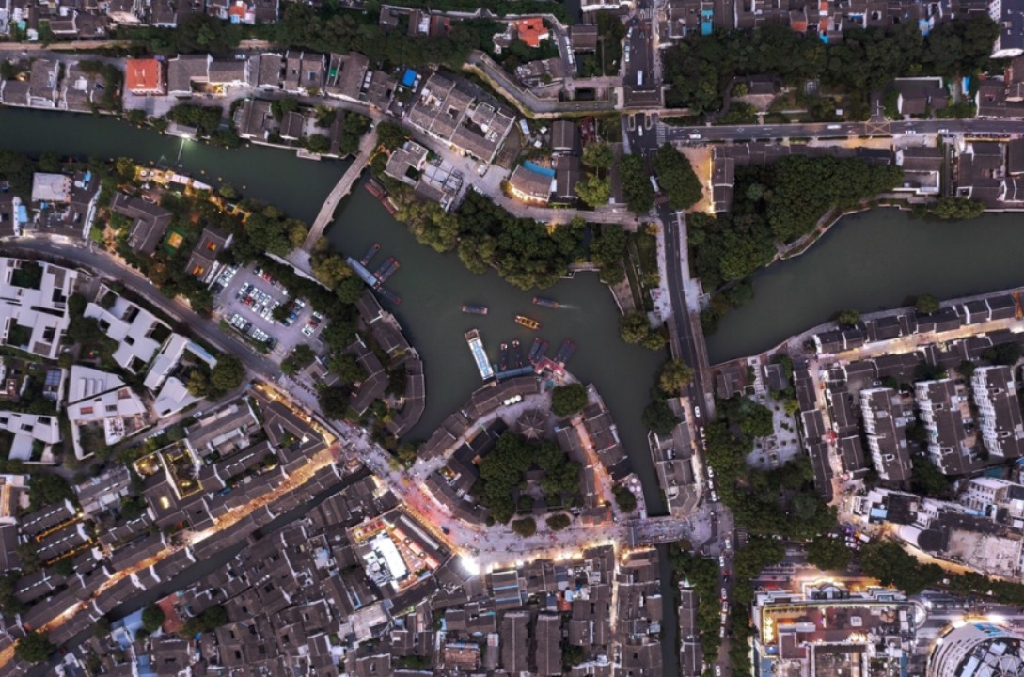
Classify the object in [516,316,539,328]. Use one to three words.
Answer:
boat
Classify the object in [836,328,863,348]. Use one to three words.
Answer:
house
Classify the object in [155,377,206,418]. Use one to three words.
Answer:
building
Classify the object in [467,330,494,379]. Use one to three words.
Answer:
boat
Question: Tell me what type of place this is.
residential area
